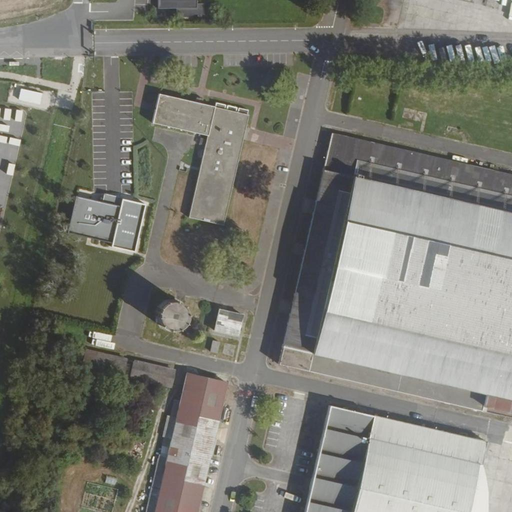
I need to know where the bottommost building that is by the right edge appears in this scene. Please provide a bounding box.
[352,415,490,512]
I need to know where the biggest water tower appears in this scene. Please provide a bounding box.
[159,300,192,334]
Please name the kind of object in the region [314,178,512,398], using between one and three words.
hangar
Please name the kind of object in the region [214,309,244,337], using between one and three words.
building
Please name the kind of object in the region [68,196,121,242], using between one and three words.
building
